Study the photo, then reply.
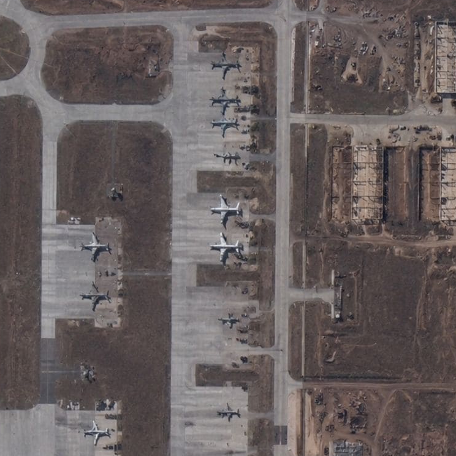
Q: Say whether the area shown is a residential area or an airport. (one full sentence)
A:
The picture captures an airport.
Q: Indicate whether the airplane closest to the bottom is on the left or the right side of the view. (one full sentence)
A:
The airplane closest to the bottom is on the left side of the image.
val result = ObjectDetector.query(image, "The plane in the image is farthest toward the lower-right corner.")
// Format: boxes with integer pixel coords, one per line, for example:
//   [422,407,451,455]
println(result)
[217,404,240,423]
